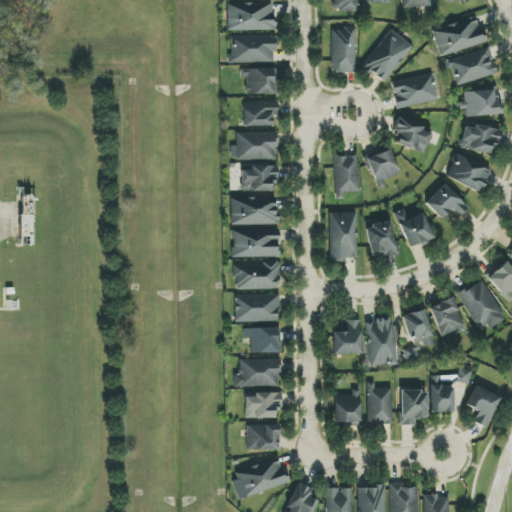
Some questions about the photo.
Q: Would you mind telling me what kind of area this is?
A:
residential area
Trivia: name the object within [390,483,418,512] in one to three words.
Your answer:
house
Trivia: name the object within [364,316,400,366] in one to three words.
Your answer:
house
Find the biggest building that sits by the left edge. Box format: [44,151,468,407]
[15,187,38,246]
